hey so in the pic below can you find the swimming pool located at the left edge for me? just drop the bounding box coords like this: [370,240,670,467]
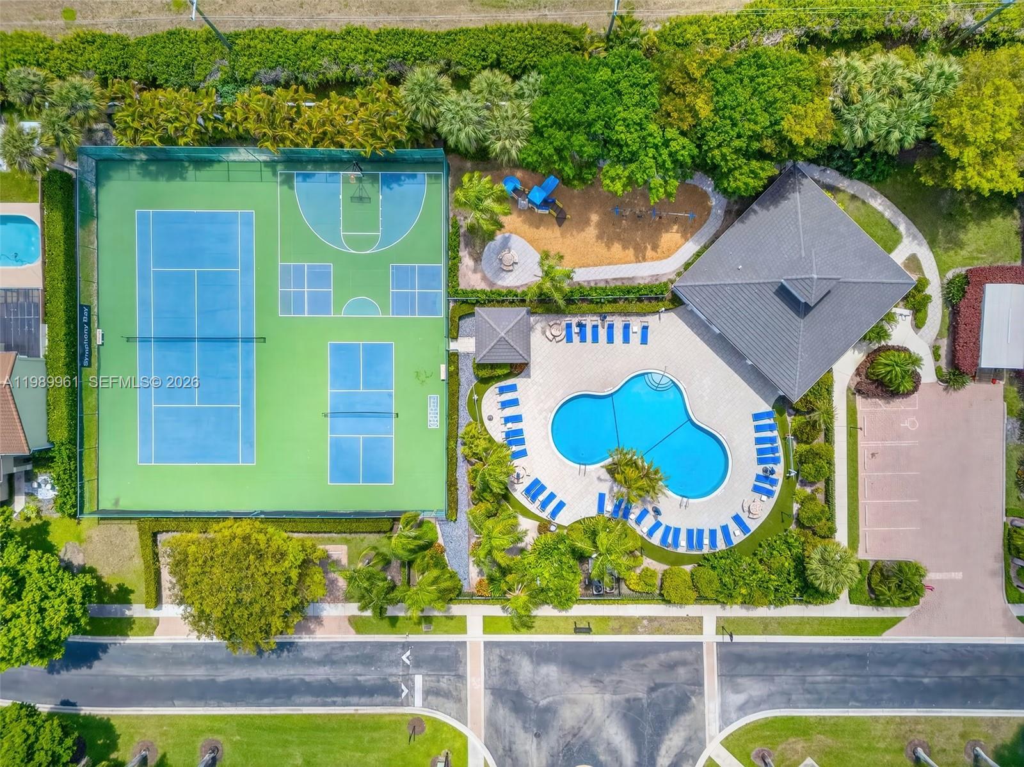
[0,212,42,269]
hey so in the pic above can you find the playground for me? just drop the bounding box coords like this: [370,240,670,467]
[503,171,570,226]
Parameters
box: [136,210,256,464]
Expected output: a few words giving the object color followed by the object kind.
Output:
blue tennis court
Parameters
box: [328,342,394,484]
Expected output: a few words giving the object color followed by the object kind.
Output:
blue sports court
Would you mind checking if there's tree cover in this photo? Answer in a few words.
Yes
